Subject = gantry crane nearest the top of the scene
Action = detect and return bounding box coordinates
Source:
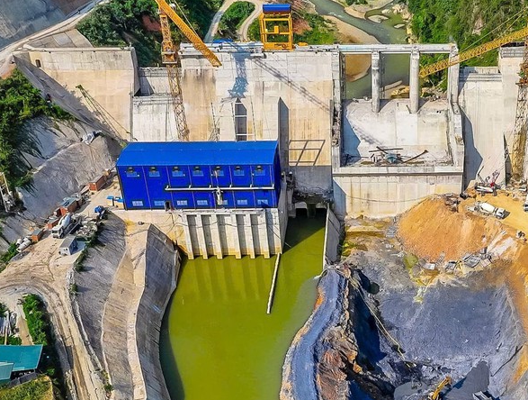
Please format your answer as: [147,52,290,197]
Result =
[260,0,296,45]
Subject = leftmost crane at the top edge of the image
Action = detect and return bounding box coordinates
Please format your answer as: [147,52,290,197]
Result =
[158,0,222,141]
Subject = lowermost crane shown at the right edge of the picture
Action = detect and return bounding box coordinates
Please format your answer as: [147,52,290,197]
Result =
[472,101,528,194]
